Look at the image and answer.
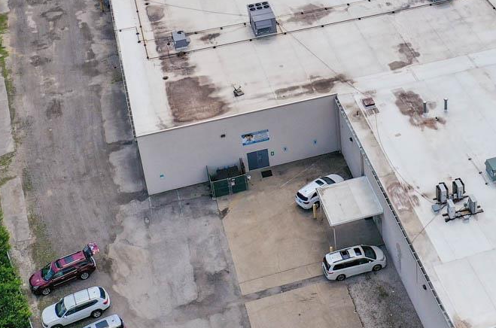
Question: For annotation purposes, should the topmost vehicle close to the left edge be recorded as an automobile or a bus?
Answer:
automobile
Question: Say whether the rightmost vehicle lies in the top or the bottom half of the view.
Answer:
bottom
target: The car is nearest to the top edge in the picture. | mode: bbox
[290,170,343,210]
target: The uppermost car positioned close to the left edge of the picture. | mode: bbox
[24,235,105,294]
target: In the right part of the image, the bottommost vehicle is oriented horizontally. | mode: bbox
[320,240,389,280]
